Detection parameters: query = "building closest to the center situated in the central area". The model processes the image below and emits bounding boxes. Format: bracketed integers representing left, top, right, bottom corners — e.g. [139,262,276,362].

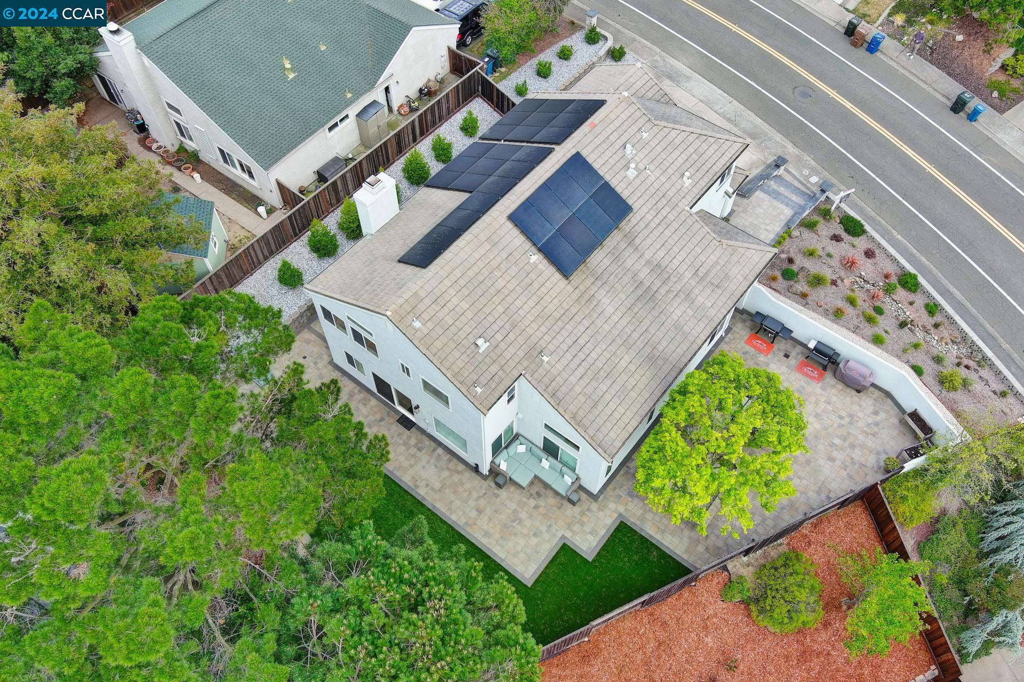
[302,59,781,496]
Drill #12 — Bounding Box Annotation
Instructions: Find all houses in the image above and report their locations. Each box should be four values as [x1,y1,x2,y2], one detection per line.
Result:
[302,59,781,496]
[80,0,462,209]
